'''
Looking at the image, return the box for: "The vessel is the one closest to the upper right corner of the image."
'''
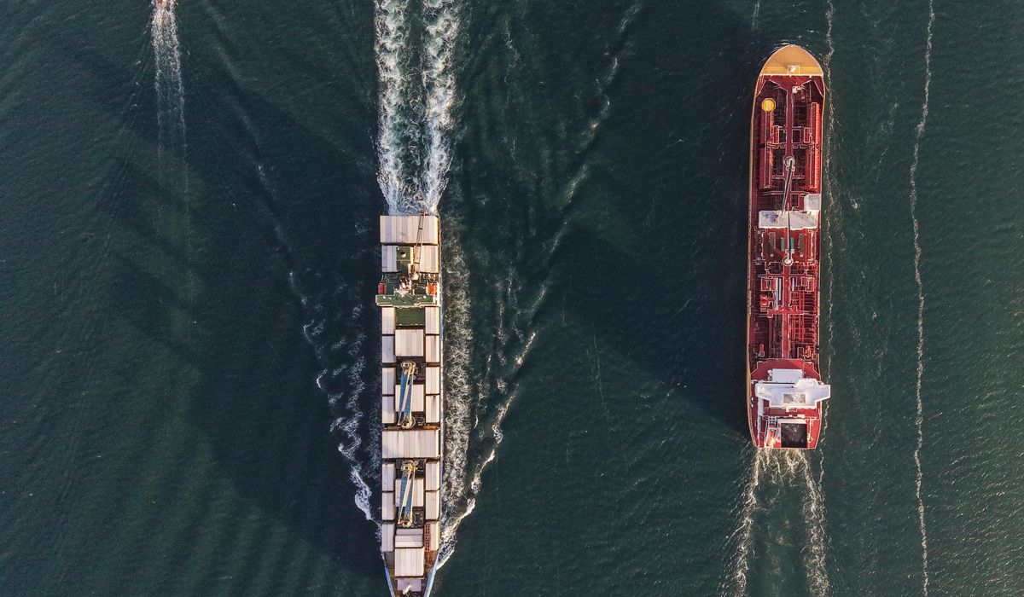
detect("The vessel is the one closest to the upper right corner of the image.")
[744,44,831,449]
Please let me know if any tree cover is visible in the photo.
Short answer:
No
